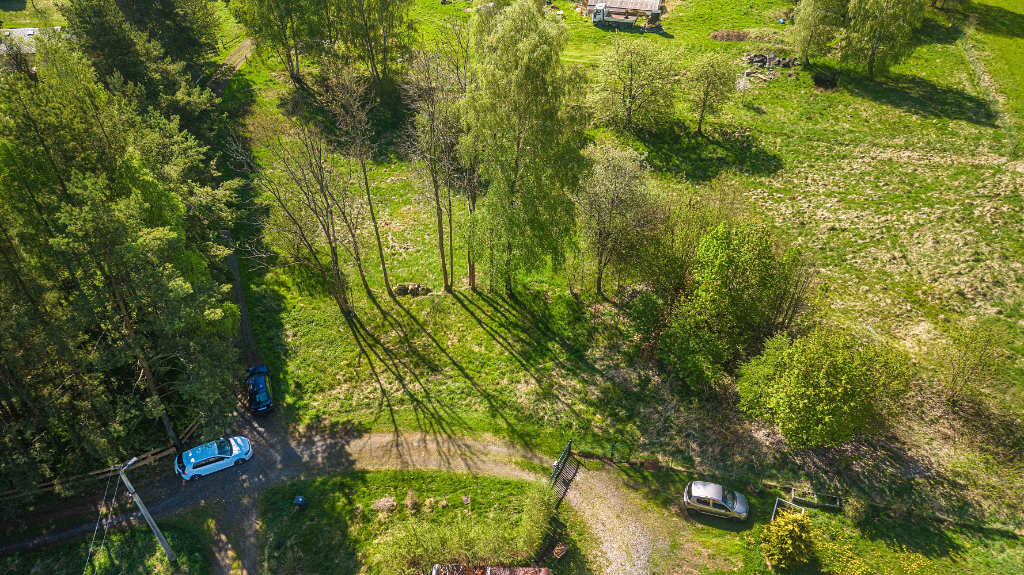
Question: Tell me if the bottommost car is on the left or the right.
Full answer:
It is on the right.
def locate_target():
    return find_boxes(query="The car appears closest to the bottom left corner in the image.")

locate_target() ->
[174,432,254,480]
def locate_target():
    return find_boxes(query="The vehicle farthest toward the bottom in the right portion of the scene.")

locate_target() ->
[680,481,748,524]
